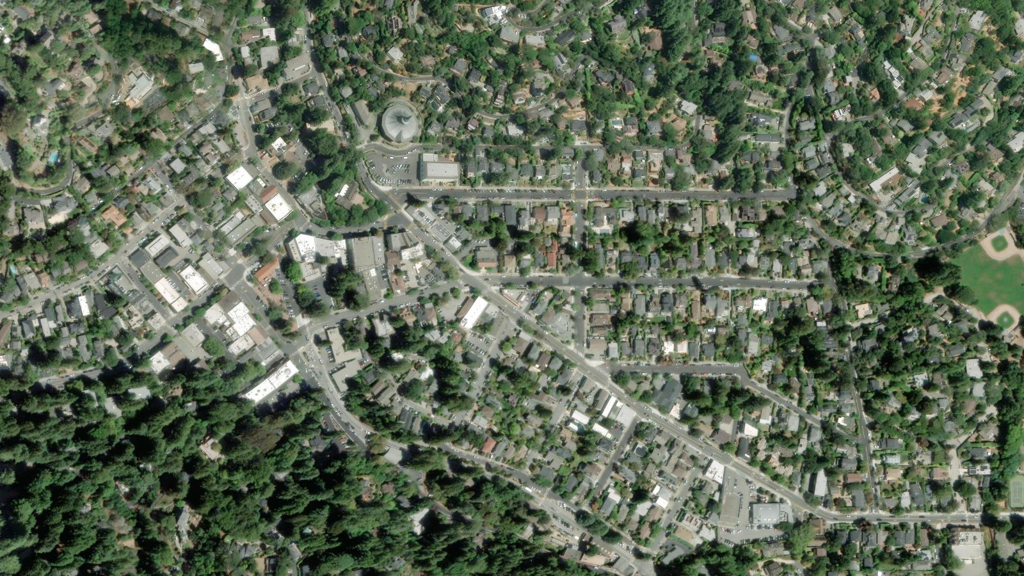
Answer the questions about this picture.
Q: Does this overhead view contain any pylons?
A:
No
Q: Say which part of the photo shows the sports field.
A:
right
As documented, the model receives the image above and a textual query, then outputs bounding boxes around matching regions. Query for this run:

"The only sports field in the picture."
[949,234,1024,318]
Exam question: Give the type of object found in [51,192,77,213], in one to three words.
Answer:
house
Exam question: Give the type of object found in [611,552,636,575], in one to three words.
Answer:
building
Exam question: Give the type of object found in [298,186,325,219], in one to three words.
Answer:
building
